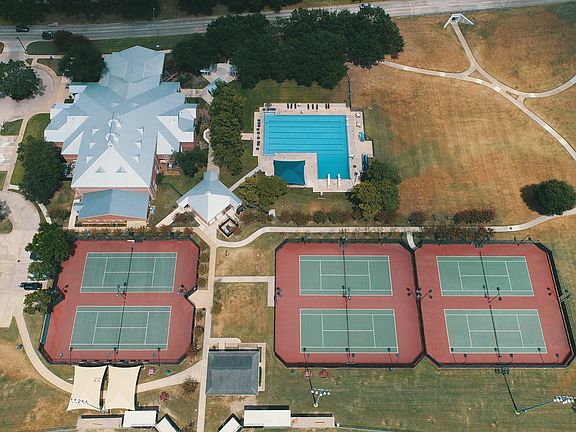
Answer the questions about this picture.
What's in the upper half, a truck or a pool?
pool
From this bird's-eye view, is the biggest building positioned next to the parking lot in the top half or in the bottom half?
top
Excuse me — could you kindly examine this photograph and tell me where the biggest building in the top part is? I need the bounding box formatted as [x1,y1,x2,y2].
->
[51,44,196,230]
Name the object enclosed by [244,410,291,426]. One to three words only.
shed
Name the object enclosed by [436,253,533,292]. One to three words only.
tennis court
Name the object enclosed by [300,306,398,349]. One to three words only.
tennis court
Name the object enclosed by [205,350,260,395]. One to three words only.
building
